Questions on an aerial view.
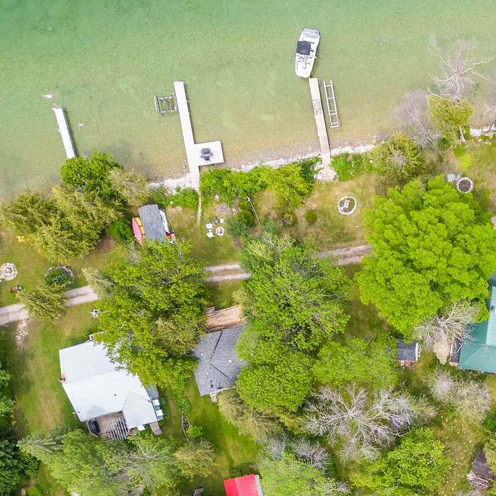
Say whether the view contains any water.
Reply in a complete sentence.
Yes, some water is visible.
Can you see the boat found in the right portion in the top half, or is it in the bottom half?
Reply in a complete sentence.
The boat found in the right portion is in the top half of the image.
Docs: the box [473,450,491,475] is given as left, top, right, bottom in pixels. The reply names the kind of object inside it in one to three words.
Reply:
shed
